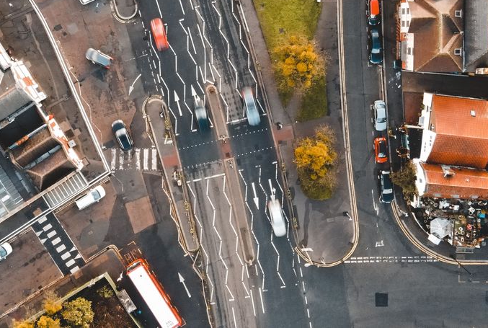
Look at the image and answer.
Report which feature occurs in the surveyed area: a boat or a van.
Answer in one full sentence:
Of the two, only a van appears.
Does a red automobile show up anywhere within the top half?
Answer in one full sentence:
Yes, a red automobile can be seen within the top half.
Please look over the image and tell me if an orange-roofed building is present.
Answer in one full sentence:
Yes, there's an orange-roofed building down there.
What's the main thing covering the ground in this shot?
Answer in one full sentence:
Most of the picture is covered by paved ground.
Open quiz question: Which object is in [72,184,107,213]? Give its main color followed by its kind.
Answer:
white van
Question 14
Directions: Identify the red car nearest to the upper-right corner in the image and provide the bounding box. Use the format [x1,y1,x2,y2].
[366,0,382,24]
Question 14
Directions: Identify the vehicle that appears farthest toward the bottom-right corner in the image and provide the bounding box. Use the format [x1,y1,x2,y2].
[378,169,396,204]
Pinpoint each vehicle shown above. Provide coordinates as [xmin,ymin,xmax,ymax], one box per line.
[241,88,260,123]
[0,239,16,260]
[378,169,396,204]
[151,18,168,48]
[85,46,115,69]
[372,100,389,130]
[117,257,180,328]
[192,97,211,133]
[366,0,382,24]
[267,198,286,233]
[372,136,388,163]
[72,184,107,213]
[110,117,133,152]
